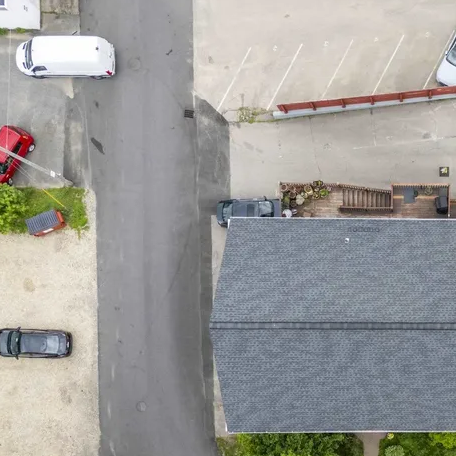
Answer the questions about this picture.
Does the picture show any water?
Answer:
No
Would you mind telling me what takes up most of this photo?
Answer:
paved ground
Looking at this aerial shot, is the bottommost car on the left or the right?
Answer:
left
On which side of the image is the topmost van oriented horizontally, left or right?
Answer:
left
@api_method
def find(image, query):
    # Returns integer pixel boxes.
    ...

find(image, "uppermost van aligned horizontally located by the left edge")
[17,36,117,81]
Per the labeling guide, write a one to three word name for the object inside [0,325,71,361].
car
